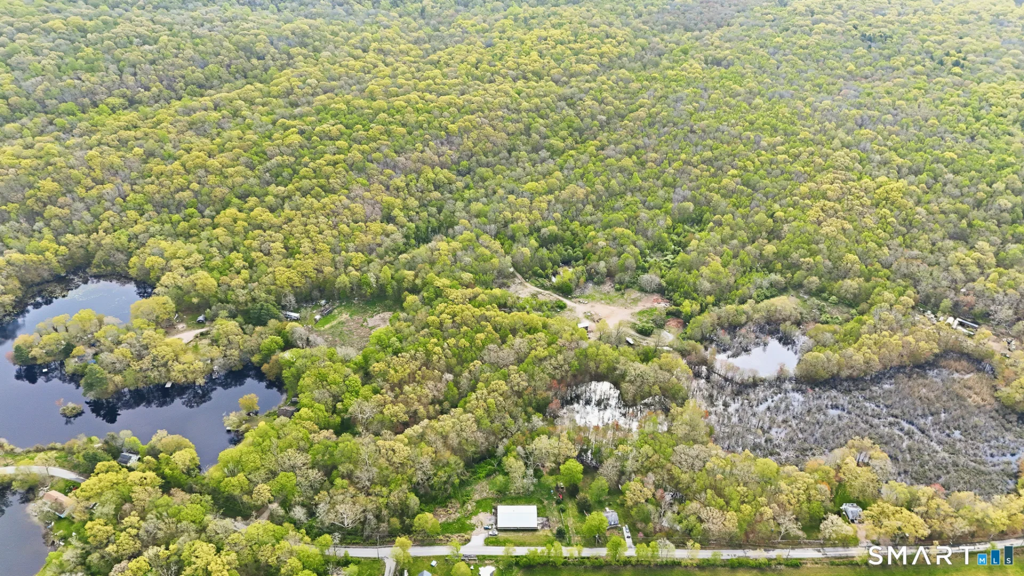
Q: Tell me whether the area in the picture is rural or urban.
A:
rural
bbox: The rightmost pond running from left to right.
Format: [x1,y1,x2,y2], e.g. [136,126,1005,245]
[701,323,838,388]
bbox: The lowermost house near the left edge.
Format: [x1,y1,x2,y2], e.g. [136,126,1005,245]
[39,491,74,517]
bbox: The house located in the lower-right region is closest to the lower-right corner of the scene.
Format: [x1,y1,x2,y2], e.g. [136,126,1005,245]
[841,503,863,523]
